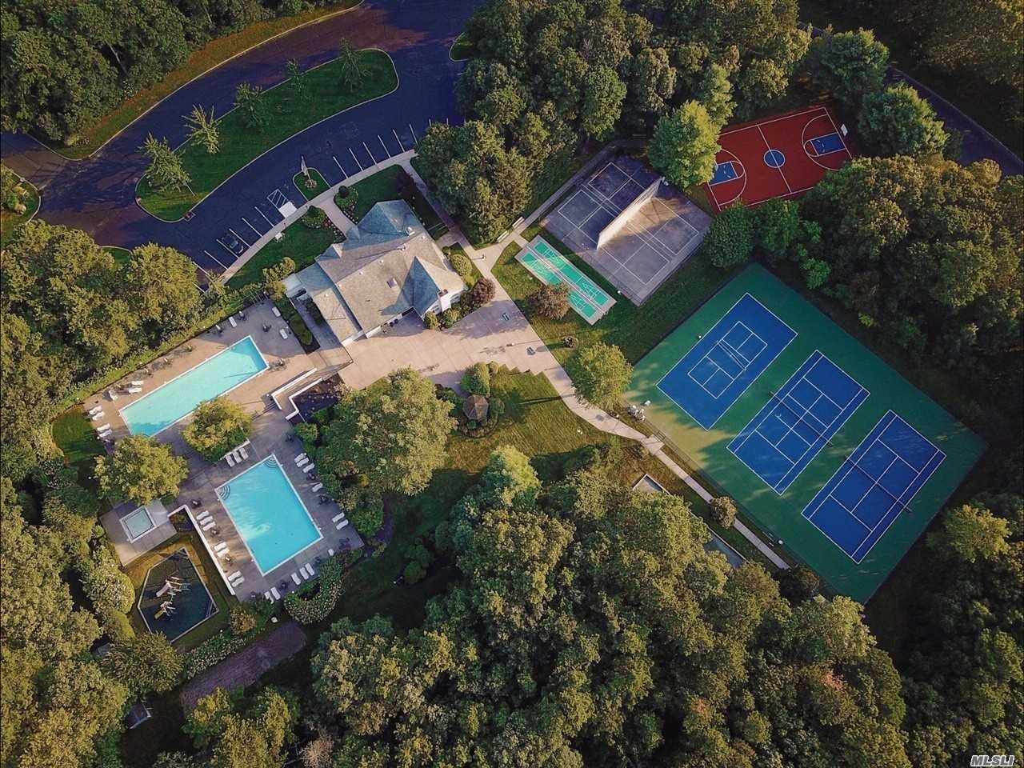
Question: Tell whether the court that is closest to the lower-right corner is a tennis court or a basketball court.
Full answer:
The court that is closest to the lower-right corner can be classified as a tennis court.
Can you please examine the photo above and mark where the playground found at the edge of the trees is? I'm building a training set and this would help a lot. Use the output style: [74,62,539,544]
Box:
[136,546,220,637]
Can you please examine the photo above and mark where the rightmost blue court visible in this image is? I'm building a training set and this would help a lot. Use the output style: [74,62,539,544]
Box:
[803,409,948,563]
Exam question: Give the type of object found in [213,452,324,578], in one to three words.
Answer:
swimming pool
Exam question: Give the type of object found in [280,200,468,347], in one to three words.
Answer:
building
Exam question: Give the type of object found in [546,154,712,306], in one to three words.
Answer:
sports court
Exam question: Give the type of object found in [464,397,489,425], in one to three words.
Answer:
gazebo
